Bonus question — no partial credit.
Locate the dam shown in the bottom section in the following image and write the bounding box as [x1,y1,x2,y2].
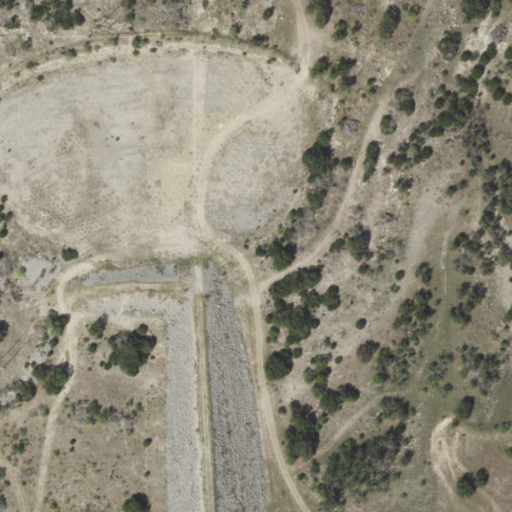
[68,261,266,512]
